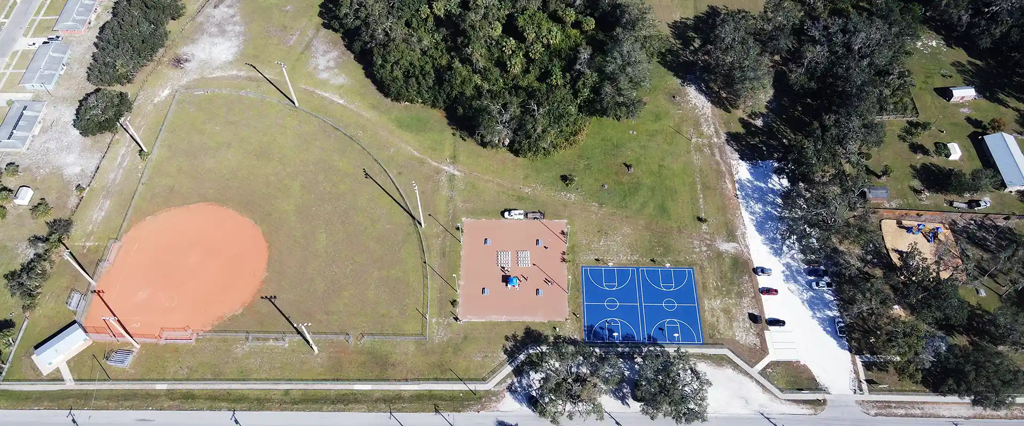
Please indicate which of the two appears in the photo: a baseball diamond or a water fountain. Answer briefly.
baseball diamond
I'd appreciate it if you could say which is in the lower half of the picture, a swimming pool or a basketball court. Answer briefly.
basketball court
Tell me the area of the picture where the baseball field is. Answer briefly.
left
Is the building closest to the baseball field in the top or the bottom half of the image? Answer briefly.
bottom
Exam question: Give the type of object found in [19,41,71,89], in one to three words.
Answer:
house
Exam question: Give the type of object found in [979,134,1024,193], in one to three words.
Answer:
barn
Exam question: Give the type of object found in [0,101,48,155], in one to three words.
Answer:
house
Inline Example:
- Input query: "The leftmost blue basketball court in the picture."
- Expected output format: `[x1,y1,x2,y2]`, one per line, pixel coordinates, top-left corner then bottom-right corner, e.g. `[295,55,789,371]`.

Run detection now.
[583,267,646,345]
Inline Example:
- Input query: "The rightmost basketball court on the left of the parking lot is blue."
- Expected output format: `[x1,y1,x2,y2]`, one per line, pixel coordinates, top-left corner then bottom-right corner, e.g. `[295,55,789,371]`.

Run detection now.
[640,268,706,346]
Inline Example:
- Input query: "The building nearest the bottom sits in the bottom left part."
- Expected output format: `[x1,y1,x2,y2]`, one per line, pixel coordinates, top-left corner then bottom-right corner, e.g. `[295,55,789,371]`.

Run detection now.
[31,320,92,376]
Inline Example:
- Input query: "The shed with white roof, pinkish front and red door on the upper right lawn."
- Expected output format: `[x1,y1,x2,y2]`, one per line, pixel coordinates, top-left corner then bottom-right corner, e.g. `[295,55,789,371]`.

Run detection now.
[948,89,979,105]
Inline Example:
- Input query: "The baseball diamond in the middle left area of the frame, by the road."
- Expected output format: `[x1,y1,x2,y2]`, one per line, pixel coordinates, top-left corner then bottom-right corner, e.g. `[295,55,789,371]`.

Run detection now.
[84,91,427,343]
